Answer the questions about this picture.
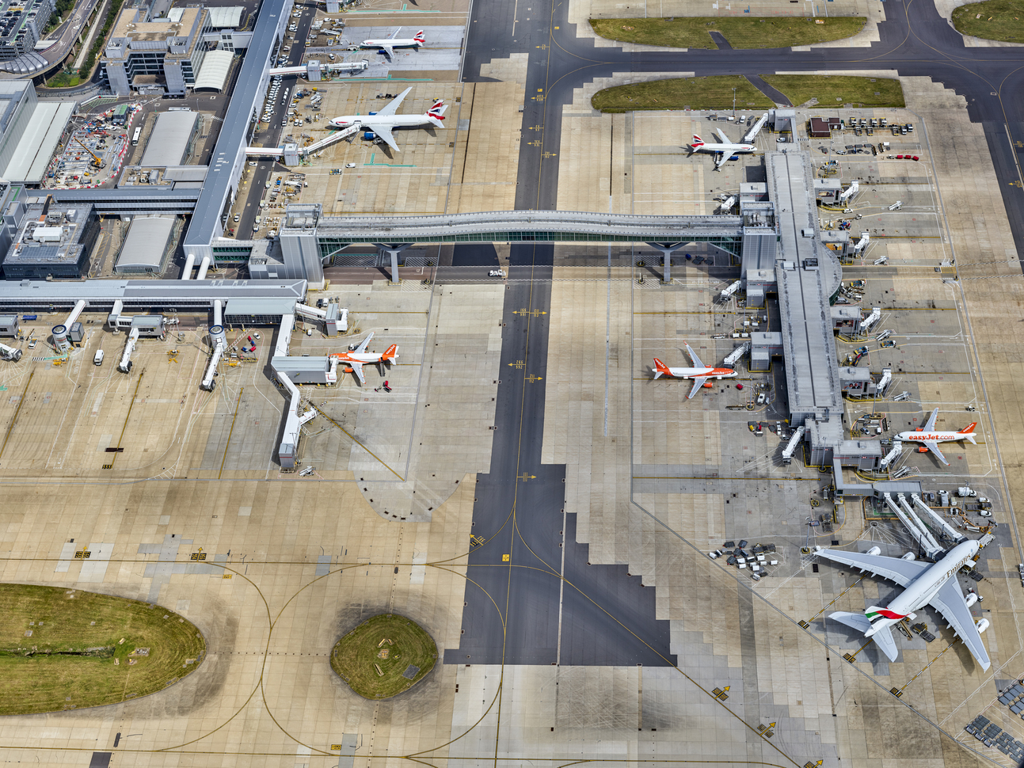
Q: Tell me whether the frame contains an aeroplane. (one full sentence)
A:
Yes, the photo shows an aeroplane.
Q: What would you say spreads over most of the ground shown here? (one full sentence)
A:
The bulk of the photo consists of paved ground.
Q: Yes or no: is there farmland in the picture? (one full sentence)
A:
No, there is no farmland in the image.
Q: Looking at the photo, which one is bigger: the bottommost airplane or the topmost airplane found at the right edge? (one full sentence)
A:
Compared with the topmost airplane found at the right edge, the bottommost airplane is the bigger one.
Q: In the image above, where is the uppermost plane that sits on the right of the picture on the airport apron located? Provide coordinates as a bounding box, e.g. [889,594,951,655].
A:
[689,128,757,167]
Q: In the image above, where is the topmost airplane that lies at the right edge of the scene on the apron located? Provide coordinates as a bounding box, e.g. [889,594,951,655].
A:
[894,407,980,463]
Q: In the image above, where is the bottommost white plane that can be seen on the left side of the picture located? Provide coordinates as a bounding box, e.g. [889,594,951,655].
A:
[328,332,399,379]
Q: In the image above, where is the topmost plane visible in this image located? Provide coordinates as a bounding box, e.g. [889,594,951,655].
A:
[360,25,425,59]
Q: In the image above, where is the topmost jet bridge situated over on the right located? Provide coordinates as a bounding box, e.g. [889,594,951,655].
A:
[743,113,769,145]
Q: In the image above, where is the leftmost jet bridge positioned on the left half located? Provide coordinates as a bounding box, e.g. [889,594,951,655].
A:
[0,340,22,362]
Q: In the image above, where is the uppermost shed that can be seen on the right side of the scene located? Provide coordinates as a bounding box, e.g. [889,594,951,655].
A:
[806,117,841,140]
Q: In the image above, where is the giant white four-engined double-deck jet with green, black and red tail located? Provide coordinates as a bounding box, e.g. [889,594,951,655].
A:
[815,538,994,663]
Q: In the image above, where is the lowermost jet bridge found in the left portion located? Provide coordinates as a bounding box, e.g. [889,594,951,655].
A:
[301,407,323,436]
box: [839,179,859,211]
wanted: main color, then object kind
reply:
white jet bridge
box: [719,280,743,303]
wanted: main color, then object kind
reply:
white jet bridge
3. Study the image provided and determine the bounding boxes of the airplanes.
[651,342,738,397]
[815,538,994,663]
[360,25,425,59]
[328,332,399,379]
[329,89,447,149]
[894,407,980,463]
[689,128,757,167]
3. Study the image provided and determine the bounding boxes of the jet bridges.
[119,328,140,373]
[721,340,751,370]
[336,305,351,339]
[895,494,949,558]
[302,120,365,164]
[909,494,967,545]
[878,438,902,477]
[780,425,805,464]
[859,305,881,340]
[324,354,341,392]
[202,340,223,393]
[720,194,738,217]
[839,179,859,211]
[324,59,370,78]
[853,230,870,262]
[719,280,743,303]
[874,365,892,401]
[743,113,769,145]
[301,407,323,436]
[0,340,22,362]
[881,494,943,562]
